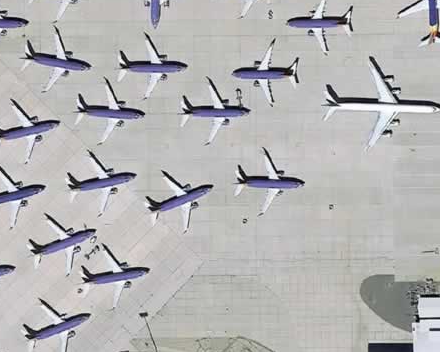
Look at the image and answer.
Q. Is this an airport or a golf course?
airport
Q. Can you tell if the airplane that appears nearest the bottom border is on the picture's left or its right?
left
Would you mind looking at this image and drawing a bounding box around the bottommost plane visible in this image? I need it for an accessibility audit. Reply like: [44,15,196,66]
[21,301,91,352]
